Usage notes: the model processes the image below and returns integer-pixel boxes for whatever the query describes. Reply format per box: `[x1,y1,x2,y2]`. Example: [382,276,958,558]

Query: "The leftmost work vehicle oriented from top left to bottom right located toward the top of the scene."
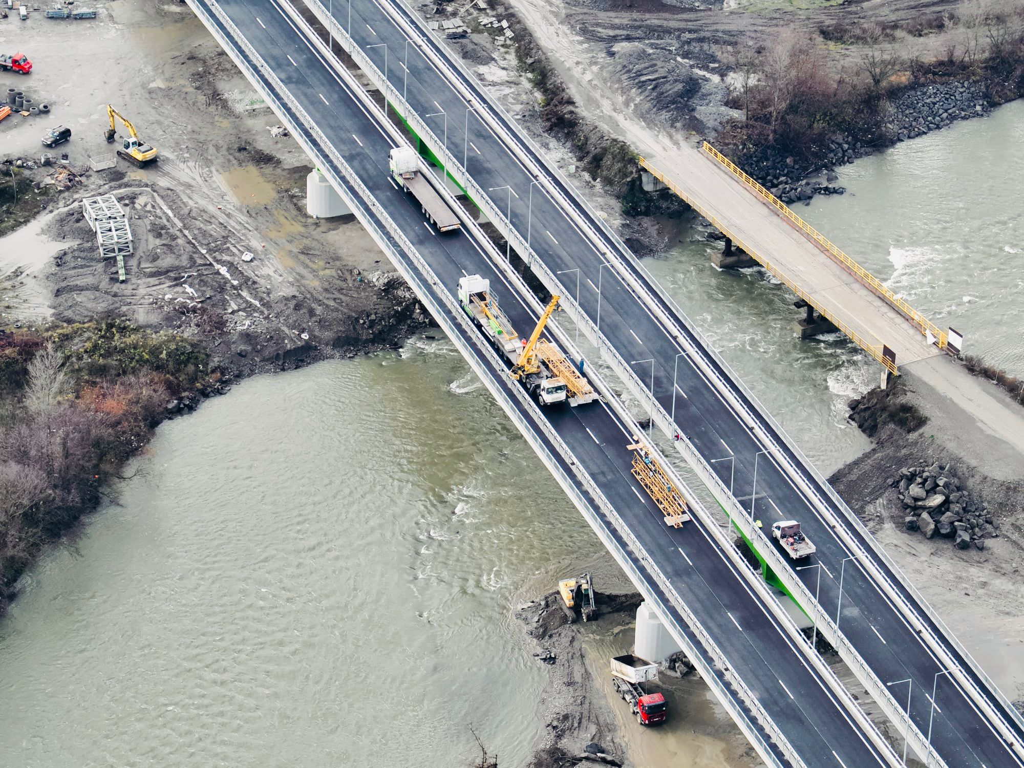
[101,103,155,165]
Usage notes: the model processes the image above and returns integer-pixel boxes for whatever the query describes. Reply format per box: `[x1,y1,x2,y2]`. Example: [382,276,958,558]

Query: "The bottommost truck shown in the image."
[604,648,667,724]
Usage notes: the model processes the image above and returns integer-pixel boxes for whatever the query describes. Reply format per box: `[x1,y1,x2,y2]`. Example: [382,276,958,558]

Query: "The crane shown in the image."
[513,287,569,406]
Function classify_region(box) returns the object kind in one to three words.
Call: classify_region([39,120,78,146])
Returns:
car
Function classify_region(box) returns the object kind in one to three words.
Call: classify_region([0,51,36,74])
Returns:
truck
